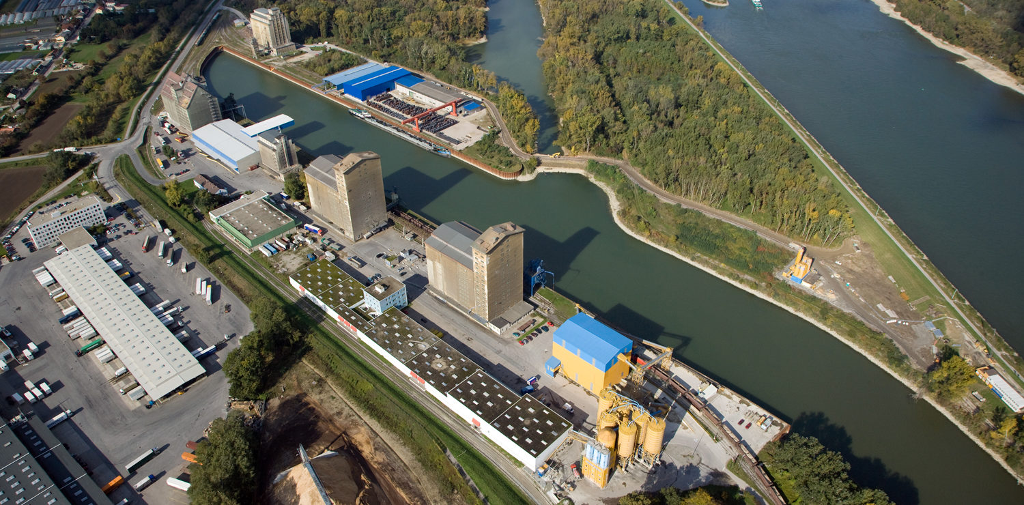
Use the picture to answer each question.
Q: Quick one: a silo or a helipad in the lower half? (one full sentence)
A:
The one visible in the lower half is a silo.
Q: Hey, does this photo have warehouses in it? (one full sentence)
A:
Yes, the picture does show a warehouse.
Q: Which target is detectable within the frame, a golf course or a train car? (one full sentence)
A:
There is a train car in the scene.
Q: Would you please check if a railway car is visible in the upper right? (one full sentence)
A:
No, I can find no railway car in the upper right.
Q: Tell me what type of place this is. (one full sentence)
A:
What you see here is a port.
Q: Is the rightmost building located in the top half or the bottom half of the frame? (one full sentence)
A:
The rightmost building sits in the bottom half of the picture.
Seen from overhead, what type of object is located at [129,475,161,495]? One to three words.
vehicle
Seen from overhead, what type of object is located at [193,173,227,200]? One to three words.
house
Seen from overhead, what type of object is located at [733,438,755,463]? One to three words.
rail car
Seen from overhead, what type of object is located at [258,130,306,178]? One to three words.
silo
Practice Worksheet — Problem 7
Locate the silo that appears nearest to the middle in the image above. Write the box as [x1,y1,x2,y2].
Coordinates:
[419,222,537,334]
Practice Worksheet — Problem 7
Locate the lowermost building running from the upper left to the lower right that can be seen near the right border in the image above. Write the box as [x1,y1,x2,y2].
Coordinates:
[976,362,1024,411]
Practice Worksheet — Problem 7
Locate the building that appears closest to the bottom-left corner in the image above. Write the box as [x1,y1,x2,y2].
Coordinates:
[0,417,112,505]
